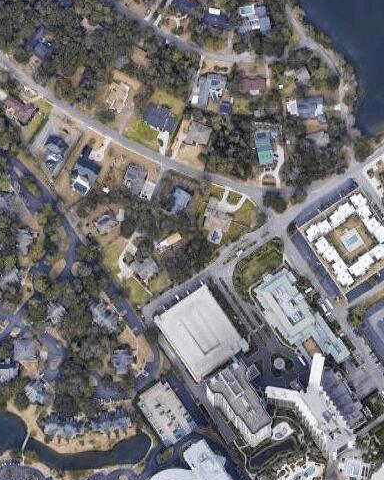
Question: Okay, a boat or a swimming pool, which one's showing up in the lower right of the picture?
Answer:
swimming pool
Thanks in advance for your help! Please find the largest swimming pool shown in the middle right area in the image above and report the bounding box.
[340,226,364,252]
